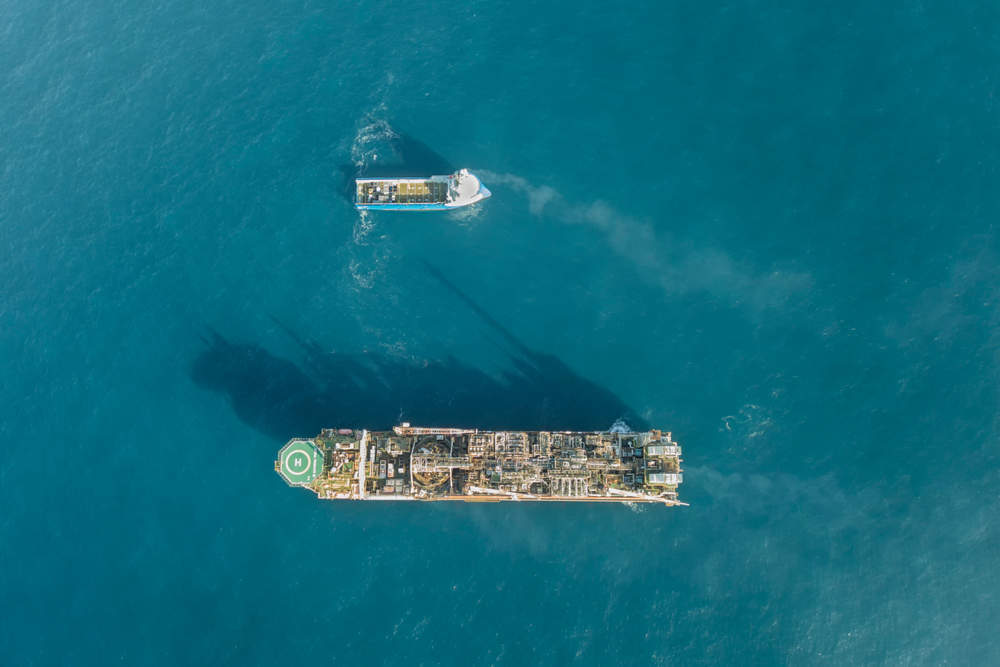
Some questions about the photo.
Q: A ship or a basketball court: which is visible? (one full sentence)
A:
This aerial view contains a ship.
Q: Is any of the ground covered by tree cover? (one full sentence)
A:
No, there is no tree cover in the image.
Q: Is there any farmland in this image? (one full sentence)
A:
No, no farmland is visible.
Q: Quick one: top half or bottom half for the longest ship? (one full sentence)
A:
The longest ship sits in the bottom half of the picture.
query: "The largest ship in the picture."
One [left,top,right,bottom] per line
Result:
[271,421,688,507]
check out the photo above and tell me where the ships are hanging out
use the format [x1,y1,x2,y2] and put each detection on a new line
[271,421,688,507]
[358,168,491,210]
